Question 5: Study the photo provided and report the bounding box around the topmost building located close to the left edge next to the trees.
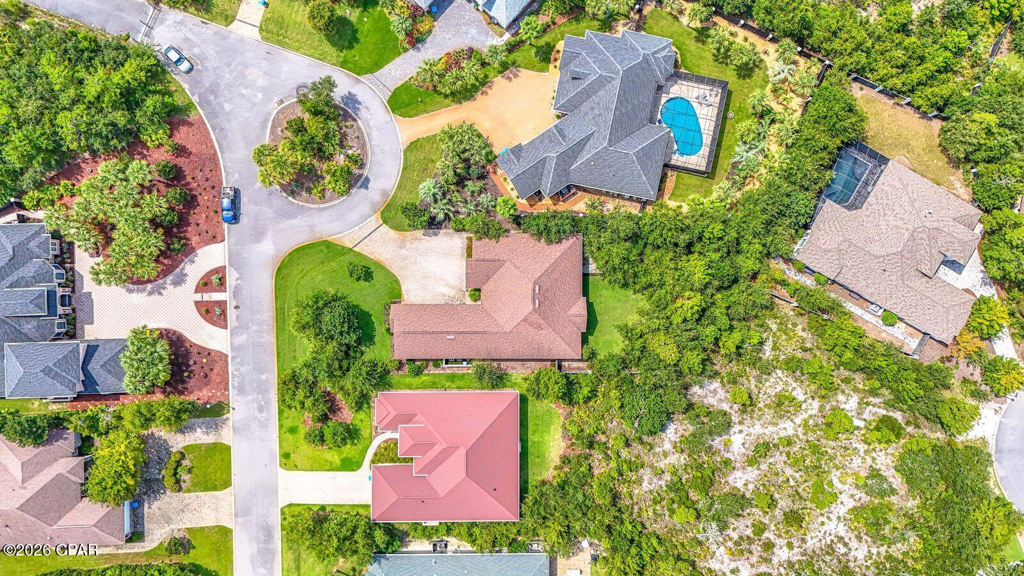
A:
[0,223,138,400]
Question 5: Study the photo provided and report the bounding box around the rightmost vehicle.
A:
[220,186,237,224]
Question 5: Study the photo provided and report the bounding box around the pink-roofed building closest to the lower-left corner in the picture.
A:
[371,391,519,522]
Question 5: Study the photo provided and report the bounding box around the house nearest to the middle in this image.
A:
[389,232,588,360]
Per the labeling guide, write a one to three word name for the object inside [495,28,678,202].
house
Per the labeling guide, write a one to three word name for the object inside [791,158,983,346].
house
